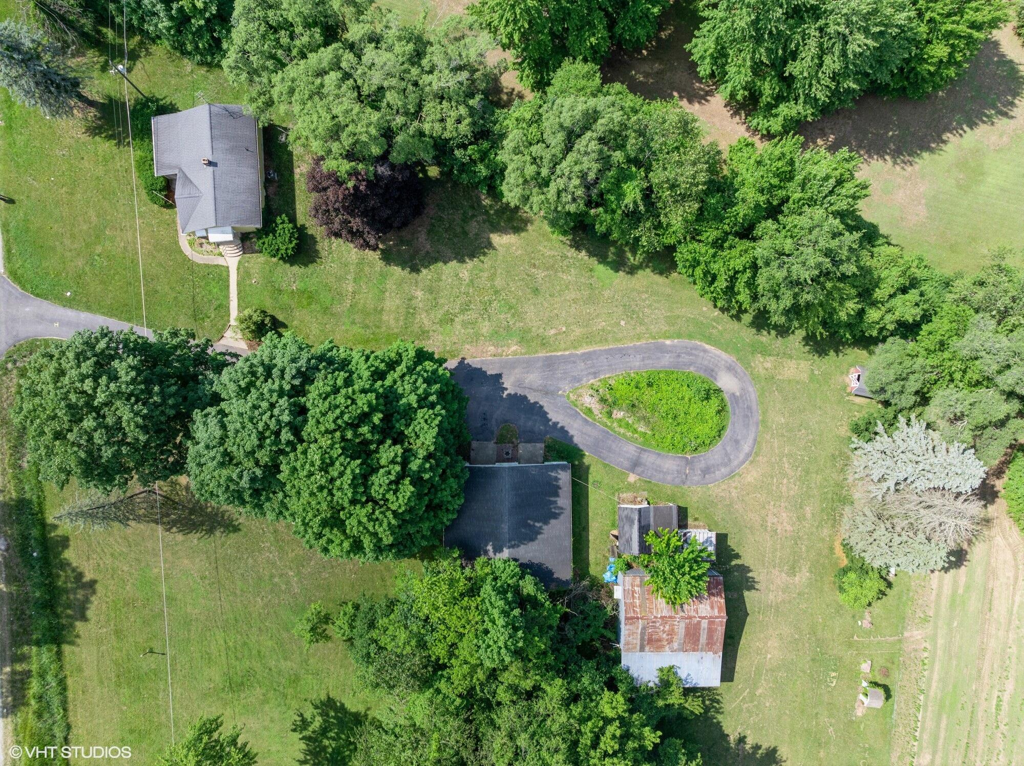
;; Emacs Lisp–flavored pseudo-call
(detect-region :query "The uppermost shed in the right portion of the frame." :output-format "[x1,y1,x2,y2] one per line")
[854,365,894,399]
